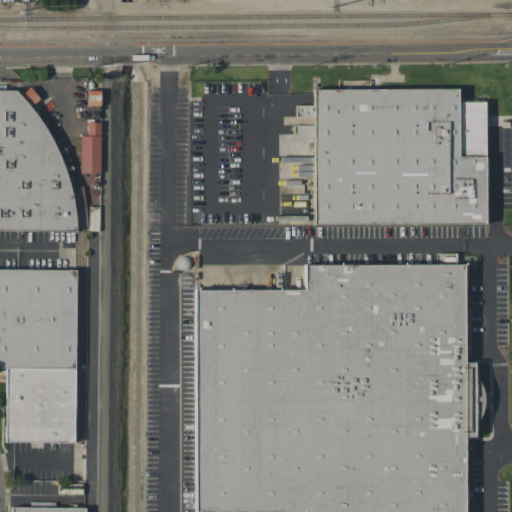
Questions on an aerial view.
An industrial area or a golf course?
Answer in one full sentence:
It's an industrial area.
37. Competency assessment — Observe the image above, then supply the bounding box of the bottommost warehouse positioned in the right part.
[194,265,487,512]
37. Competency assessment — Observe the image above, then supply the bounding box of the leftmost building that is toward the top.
[0,90,78,231]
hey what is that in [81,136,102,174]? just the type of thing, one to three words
building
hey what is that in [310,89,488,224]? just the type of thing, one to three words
warehouse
